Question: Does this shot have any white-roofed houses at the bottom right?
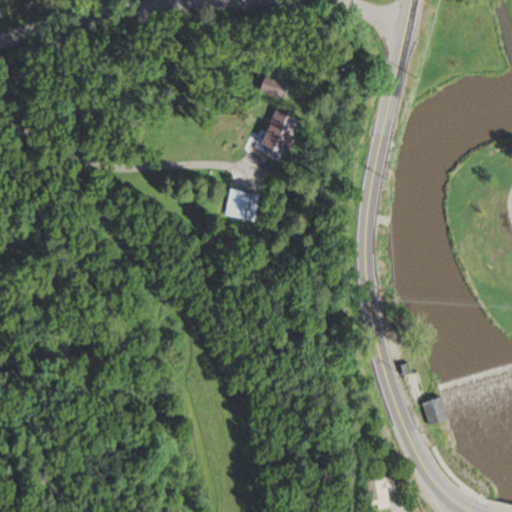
Yes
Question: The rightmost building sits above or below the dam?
below it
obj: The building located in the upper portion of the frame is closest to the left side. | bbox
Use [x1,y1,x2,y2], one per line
[224,188,260,222]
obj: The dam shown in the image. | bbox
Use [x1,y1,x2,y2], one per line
[434,362,512,394]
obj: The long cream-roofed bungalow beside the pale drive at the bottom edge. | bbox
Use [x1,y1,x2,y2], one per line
[373,479,394,511]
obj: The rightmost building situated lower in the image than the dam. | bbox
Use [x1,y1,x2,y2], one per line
[423,398,448,424]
